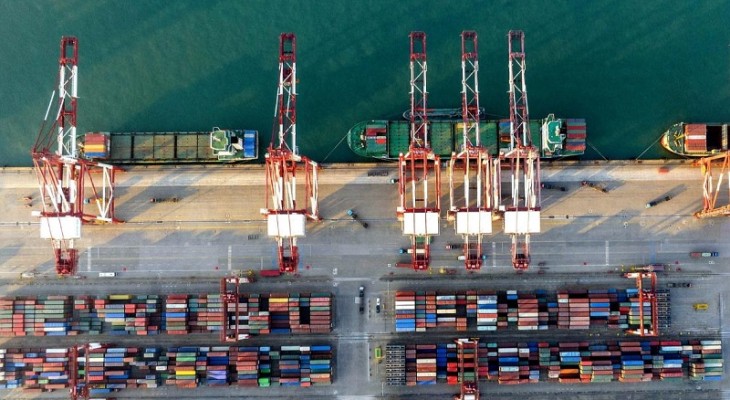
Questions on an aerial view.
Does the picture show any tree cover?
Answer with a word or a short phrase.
No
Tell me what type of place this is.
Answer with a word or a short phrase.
port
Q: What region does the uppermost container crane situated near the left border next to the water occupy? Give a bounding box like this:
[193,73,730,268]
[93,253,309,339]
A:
[34,36,125,276]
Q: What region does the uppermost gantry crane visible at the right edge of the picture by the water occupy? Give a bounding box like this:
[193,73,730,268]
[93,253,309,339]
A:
[694,153,730,217]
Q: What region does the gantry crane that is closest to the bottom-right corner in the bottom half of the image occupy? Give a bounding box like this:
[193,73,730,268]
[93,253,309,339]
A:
[624,272,657,338]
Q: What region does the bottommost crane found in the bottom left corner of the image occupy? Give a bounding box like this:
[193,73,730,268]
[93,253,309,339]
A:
[72,337,110,400]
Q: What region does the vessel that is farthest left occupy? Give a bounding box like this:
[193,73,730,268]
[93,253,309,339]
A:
[76,125,259,162]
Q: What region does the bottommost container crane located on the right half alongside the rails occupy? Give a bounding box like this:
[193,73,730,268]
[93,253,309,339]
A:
[450,333,483,400]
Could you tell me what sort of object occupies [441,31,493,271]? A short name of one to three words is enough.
container crane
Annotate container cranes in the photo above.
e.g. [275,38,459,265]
[389,31,443,272]
[34,36,125,276]
[222,277,253,343]
[256,33,323,273]
[624,272,657,338]
[487,31,541,271]
[694,153,730,217]
[441,31,493,271]
[450,333,483,400]
[72,337,110,400]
